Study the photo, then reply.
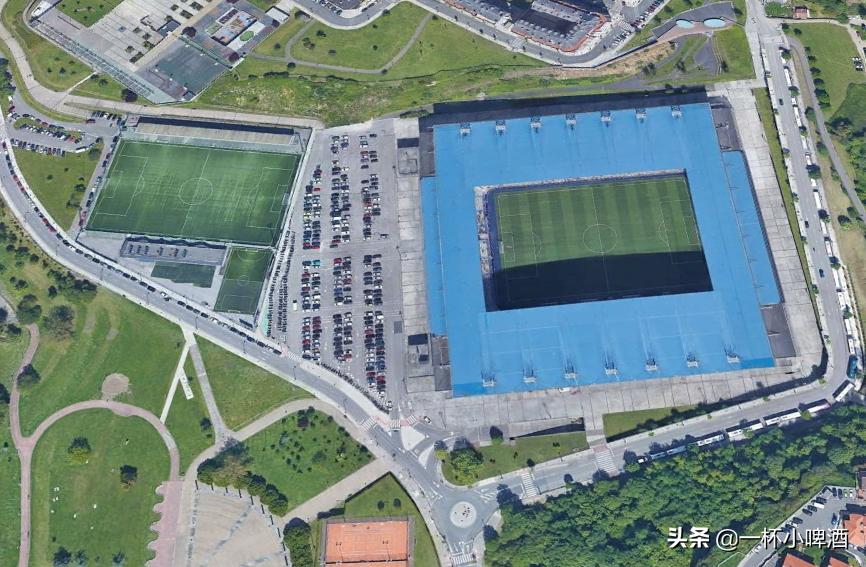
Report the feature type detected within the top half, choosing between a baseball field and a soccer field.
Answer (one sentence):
Looking within the top half, you will find a soccer field.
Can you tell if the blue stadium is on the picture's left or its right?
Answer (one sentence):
It is on the right.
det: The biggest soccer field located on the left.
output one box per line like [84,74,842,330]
[82,138,304,250]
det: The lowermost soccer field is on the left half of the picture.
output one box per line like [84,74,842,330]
[214,246,272,314]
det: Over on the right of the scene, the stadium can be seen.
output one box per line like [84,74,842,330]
[419,96,797,399]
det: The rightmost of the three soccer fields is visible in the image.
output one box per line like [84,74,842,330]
[491,175,711,305]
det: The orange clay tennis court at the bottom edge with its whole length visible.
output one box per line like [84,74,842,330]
[326,522,416,566]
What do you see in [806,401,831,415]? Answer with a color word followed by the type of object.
white vehicle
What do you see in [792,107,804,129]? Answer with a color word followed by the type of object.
white vehicle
